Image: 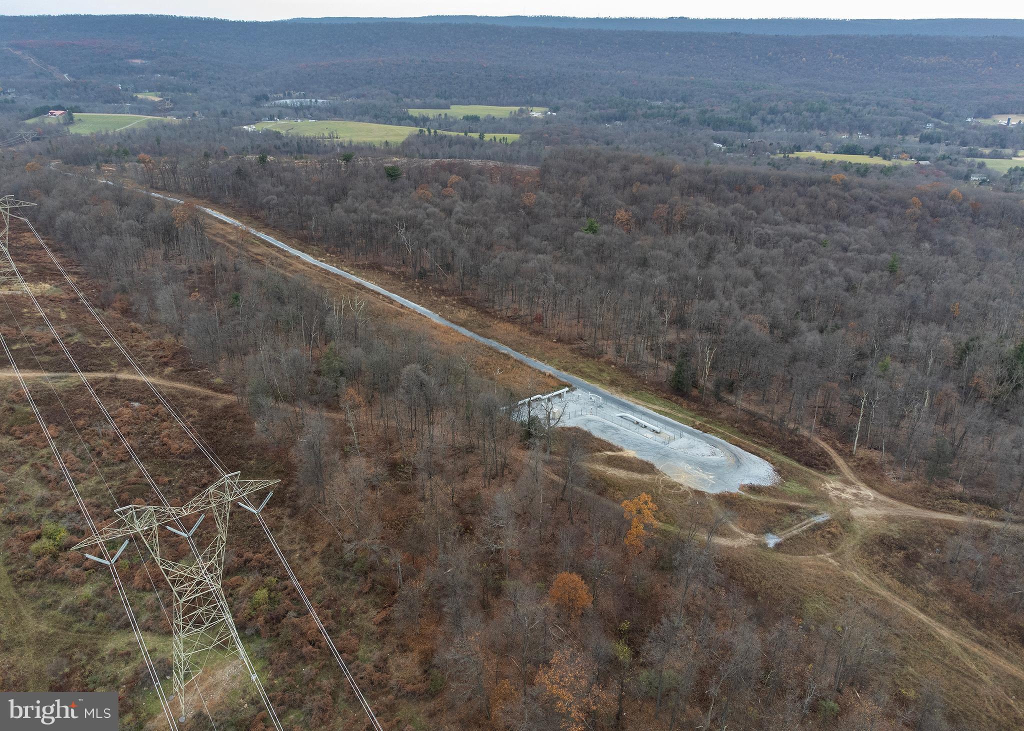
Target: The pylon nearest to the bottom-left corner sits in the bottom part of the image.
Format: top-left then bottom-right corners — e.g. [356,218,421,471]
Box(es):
[71,470,279,720]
